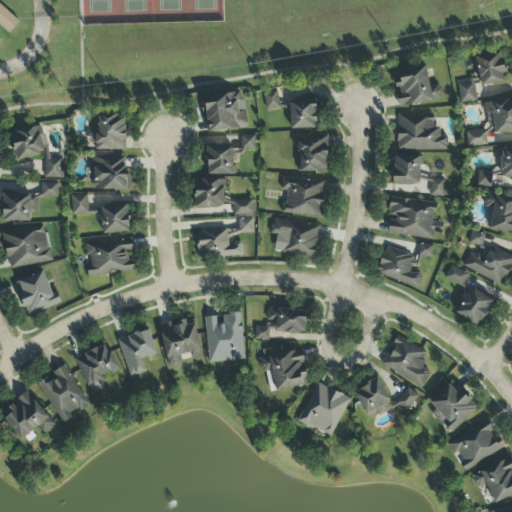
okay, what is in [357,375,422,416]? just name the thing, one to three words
house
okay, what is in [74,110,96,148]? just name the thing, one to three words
swimming pool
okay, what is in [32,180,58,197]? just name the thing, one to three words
building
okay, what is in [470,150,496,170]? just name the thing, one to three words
swimming pool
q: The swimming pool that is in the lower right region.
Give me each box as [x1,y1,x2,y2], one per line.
[375,410,395,428]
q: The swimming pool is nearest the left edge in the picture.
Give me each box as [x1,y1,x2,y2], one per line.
[44,124,65,148]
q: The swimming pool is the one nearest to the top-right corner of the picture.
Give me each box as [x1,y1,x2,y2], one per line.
[463,104,485,126]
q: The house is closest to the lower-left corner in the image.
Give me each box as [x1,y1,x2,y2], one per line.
[6,390,56,438]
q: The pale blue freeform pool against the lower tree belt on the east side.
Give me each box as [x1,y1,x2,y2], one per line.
[472,196,488,225]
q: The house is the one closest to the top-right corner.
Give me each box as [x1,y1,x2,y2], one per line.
[476,48,510,84]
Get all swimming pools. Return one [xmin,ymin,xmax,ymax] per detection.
[470,150,496,170]
[472,196,488,225]
[44,124,65,148]
[436,114,456,143]
[74,110,96,148]
[375,410,395,428]
[74,156,92,181]
[463,104,485,126]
